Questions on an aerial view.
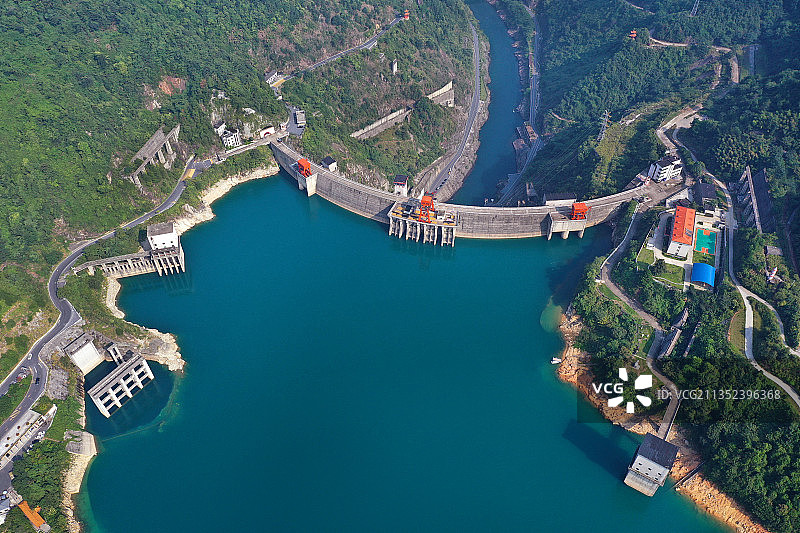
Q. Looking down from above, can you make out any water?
Yes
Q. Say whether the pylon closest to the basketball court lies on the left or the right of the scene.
right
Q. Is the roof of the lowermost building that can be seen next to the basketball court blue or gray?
blue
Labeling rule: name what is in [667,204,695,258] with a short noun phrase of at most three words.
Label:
building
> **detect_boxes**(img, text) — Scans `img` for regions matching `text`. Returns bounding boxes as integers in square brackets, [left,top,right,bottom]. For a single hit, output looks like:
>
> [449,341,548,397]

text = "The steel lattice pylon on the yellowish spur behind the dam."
[597,114,617,152]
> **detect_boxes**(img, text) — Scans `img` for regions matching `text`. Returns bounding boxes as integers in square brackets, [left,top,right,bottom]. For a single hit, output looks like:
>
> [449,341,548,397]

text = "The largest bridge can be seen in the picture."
[92,249,152,279]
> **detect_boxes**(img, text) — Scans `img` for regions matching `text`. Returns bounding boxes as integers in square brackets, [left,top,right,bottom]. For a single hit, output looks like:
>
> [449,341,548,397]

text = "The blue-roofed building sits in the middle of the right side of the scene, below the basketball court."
[688,264,714,293]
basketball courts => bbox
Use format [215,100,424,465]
[695,228,718,256]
